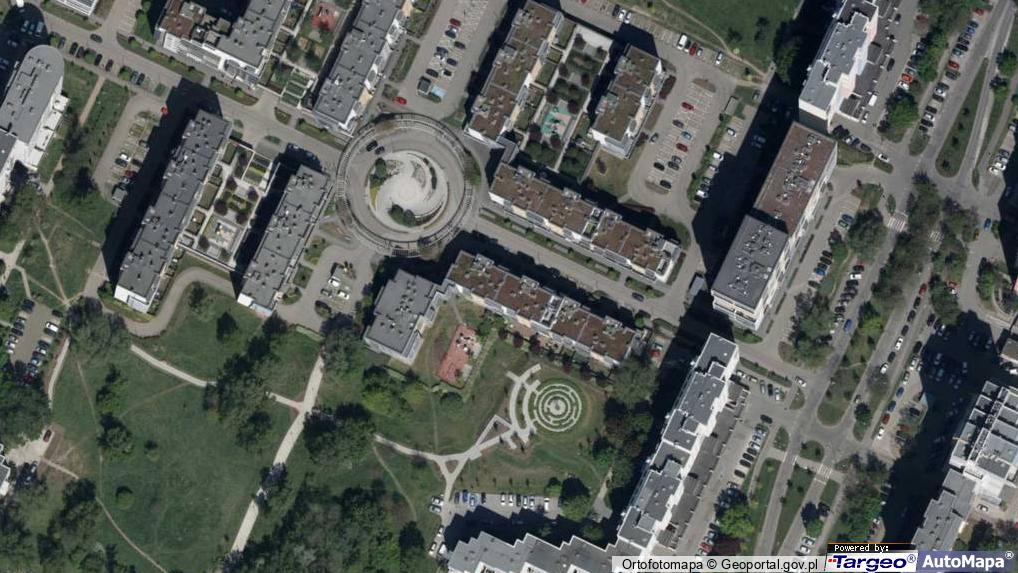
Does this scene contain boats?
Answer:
No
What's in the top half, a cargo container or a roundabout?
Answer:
roundabout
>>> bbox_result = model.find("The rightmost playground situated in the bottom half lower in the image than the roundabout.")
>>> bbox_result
[438,323,482,386]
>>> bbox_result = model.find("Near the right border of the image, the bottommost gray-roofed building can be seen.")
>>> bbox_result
[902,469,979,573]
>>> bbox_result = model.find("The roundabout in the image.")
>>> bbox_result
[335,115,474,256]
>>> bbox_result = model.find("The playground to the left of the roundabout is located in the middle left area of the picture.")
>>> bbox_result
[211,220,236,250]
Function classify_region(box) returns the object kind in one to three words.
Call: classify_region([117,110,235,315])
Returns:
building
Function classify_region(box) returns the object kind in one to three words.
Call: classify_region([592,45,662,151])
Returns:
building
